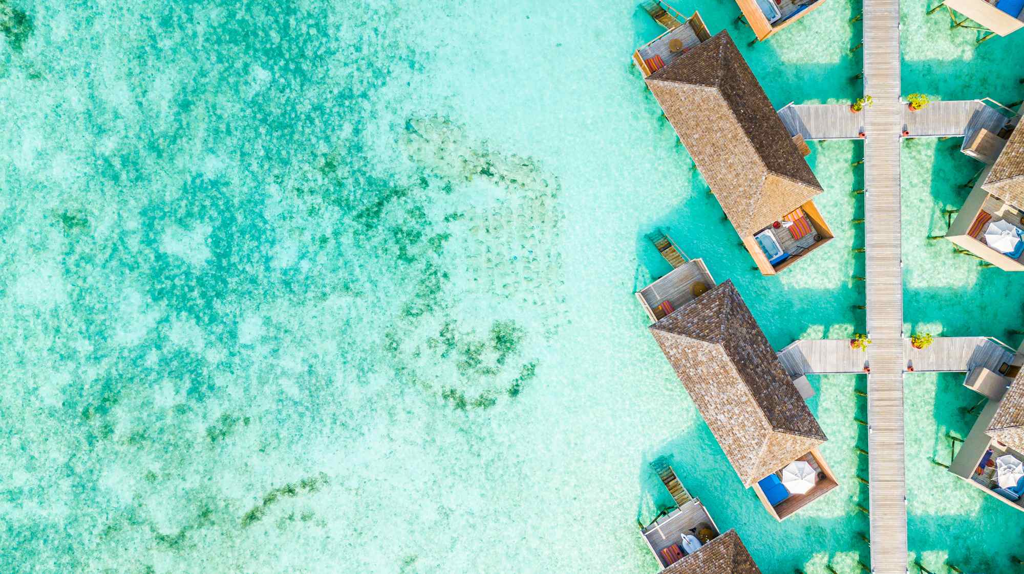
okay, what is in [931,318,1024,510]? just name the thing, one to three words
house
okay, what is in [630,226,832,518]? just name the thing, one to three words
house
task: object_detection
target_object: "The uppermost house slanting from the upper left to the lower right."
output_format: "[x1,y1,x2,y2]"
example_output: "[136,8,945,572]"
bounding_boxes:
[627,0,833,274]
